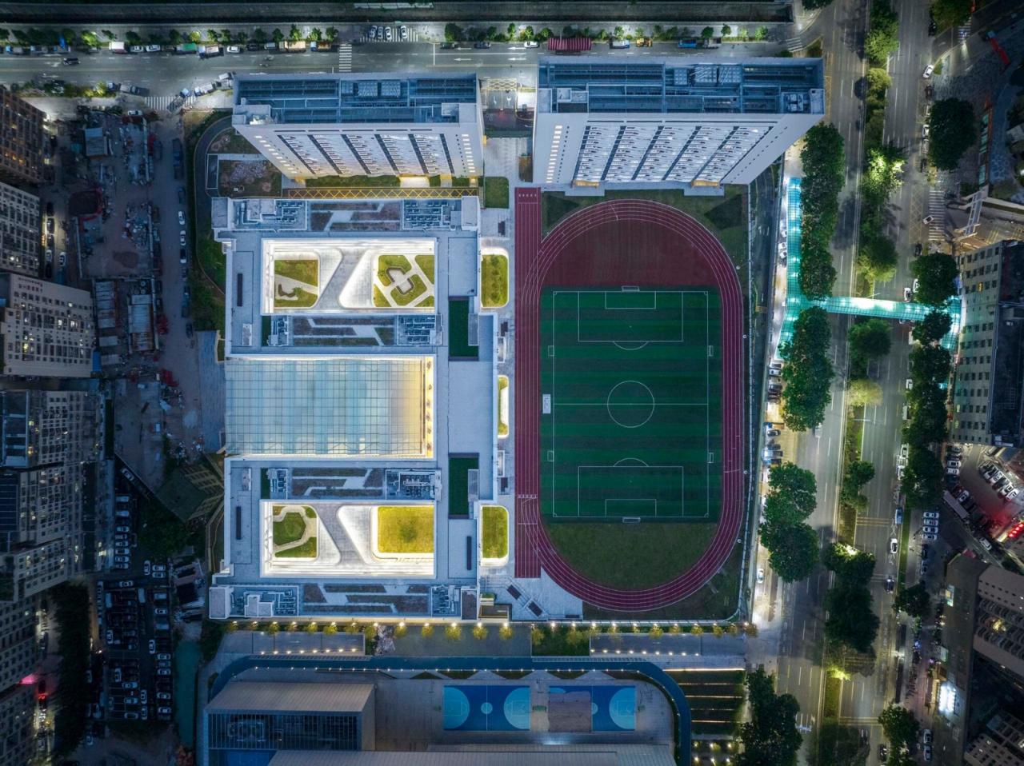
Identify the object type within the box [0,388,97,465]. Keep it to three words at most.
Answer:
building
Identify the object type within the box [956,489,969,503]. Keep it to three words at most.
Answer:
vehicle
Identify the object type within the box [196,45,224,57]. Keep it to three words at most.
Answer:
vehicle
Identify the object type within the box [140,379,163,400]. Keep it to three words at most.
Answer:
shed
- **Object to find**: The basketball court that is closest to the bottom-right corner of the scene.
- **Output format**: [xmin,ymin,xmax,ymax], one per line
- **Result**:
[548,685,635,731]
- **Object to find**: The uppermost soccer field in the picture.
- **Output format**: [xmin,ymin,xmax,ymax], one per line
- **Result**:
[541,286,722,522]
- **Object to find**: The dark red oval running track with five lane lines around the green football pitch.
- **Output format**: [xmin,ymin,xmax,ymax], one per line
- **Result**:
[515,189,744,613]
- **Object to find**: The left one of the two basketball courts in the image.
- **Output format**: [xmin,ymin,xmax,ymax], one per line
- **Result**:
[443,685,530,731]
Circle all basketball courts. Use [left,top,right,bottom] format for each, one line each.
[443,685,530,731]
[548,685,635,731]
